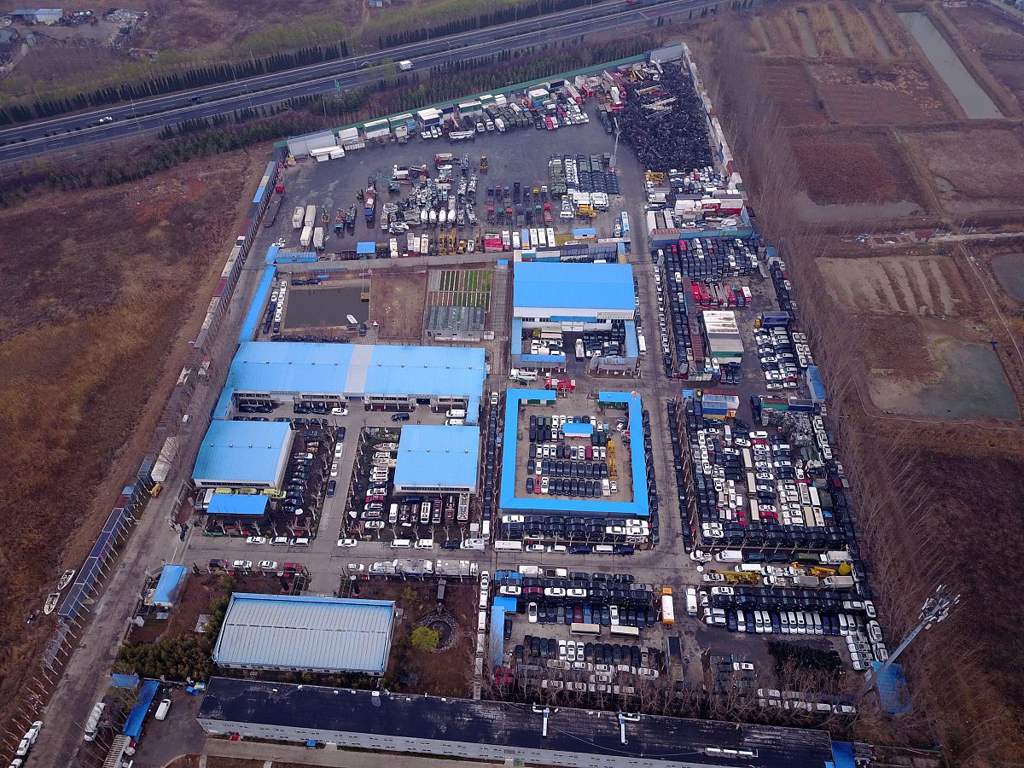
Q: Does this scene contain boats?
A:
Yes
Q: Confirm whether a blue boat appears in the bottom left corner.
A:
No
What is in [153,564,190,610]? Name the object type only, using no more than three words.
shed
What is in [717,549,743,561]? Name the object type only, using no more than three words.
vehicle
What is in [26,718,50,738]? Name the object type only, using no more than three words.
car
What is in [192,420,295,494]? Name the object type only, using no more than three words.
building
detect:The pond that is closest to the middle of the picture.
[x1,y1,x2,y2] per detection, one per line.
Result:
[284,286,370,327]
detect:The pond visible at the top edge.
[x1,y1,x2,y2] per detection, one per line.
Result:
[899,11,1003,118]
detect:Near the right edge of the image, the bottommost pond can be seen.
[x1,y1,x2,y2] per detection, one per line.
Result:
[872,338,1021,421]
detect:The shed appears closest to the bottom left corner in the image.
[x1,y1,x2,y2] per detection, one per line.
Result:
[123,679,164,740]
